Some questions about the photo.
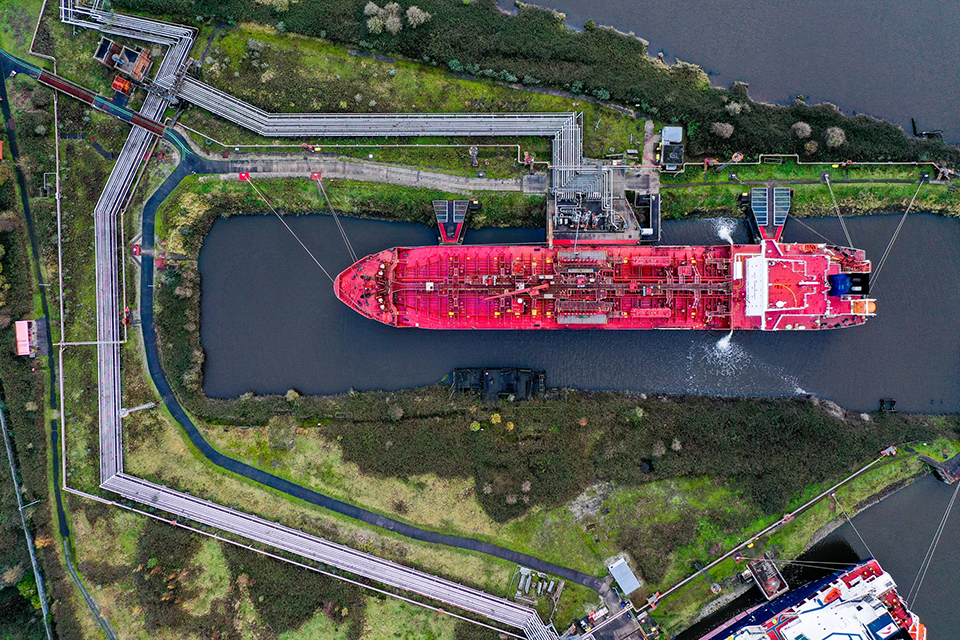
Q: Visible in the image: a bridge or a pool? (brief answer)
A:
bridge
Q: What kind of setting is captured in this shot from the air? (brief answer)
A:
port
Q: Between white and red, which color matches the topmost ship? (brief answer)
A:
red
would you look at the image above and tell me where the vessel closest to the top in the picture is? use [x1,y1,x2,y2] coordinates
[333,239,877,331]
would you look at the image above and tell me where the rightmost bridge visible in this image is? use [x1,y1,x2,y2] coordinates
[128,111,172,141]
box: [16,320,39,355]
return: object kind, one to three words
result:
building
